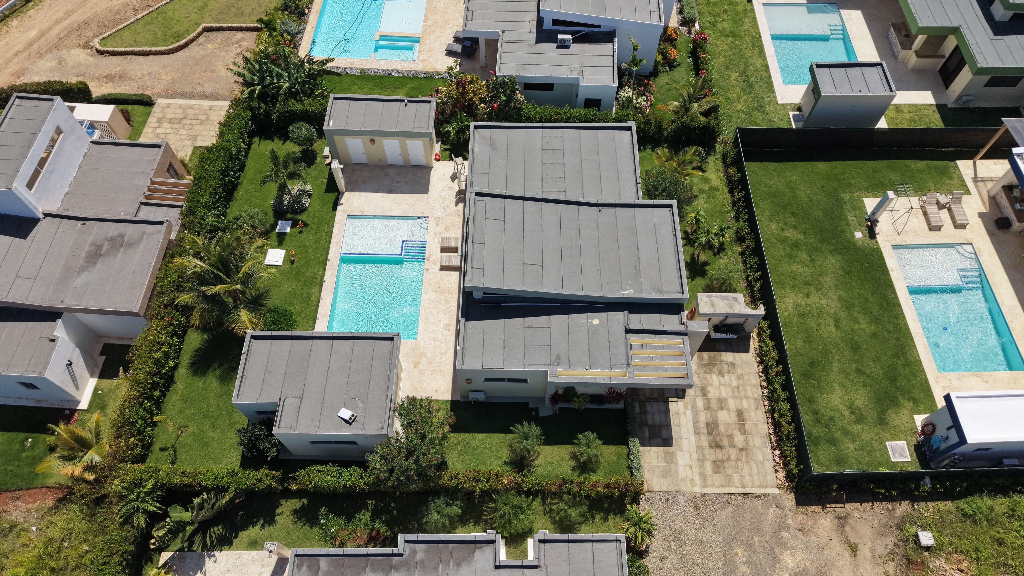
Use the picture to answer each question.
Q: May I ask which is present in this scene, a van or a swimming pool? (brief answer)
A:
swimming pool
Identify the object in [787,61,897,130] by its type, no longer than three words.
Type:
shed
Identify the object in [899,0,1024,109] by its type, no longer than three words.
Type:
building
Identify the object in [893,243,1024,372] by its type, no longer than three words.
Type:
swimming pool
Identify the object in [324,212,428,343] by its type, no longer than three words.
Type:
swimming pool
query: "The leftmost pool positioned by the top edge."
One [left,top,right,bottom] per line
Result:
[309,0,426,57]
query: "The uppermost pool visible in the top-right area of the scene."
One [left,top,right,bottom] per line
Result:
[762,2,859,84]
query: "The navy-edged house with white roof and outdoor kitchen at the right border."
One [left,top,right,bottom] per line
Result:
[988,145,1024,196]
